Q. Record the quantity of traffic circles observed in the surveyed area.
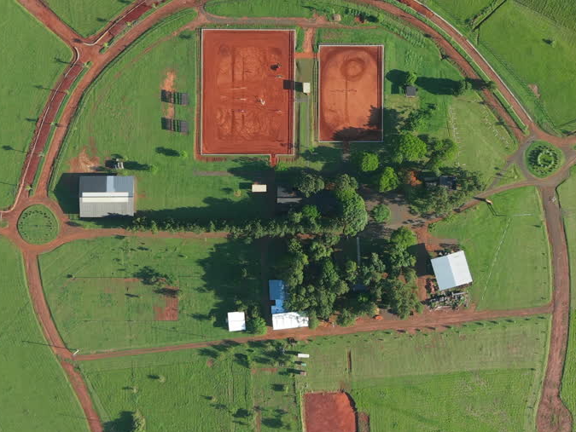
two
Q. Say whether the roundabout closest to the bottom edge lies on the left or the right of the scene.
left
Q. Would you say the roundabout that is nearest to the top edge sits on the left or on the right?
right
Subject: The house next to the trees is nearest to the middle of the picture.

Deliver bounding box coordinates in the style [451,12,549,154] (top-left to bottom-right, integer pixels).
[277,185,304,204]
